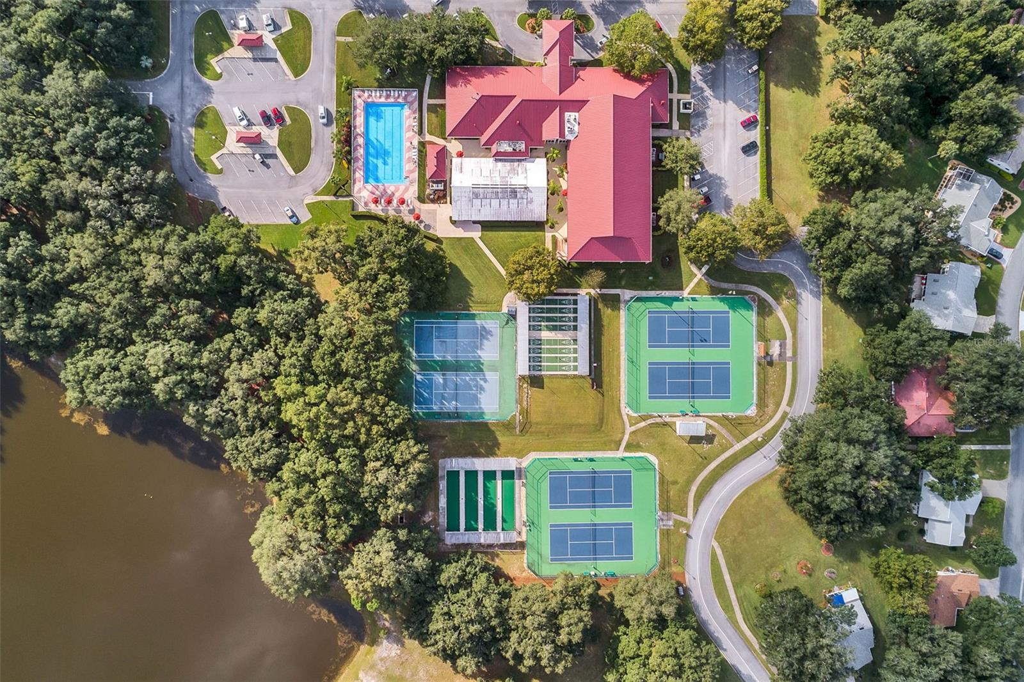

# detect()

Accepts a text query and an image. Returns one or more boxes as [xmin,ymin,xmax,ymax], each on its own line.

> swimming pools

[352,89,420,211]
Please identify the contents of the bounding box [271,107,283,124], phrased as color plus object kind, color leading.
red vehicle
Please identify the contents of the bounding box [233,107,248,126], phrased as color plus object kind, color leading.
white vehicle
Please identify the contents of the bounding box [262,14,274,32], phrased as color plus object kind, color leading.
white vehicle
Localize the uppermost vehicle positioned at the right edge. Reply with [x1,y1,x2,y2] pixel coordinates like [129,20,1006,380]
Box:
[988,247,1003,259]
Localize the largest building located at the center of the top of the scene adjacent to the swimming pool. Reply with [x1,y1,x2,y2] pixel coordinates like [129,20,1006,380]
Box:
[445,19,669,265]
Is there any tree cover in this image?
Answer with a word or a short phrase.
Yes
